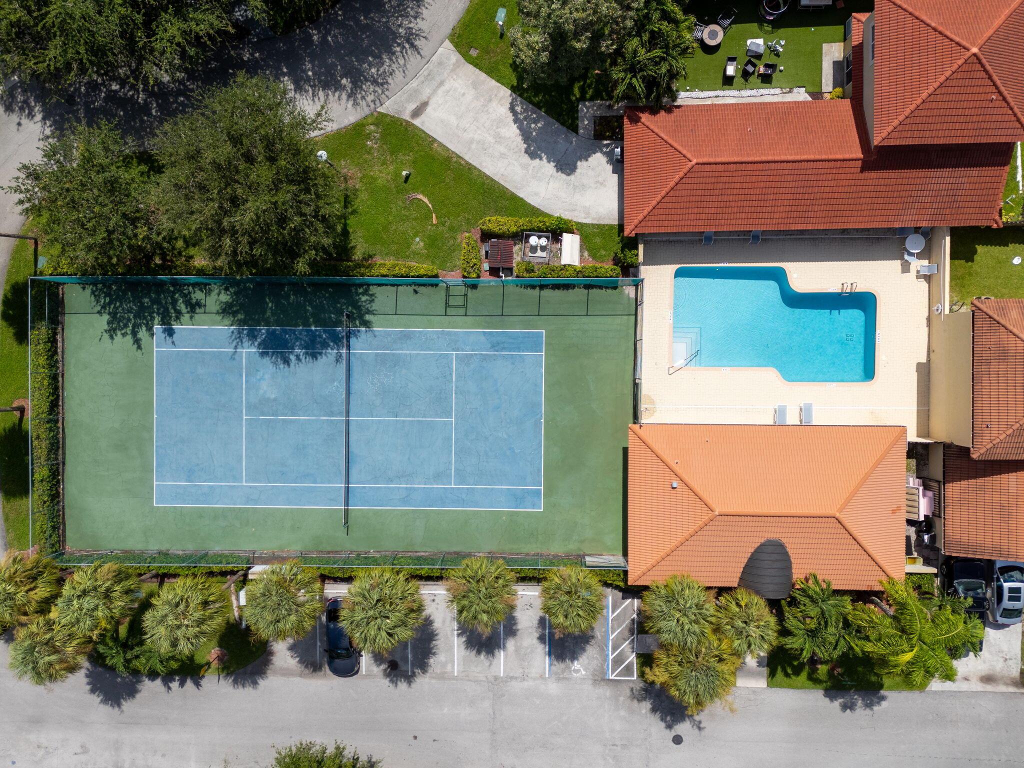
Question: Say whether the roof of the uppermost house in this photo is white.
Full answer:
No, from above the roof of the uppermost house looks red.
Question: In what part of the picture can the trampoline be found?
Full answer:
Look in the top right portion of the view to spot the trampoline.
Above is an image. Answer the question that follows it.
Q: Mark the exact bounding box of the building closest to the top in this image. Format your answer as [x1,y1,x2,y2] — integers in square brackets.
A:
[623,0,1024,238]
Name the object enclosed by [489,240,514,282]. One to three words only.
shed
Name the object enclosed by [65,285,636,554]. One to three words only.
tennis court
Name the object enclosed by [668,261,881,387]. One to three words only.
swimming pool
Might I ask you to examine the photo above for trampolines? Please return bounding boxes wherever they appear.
[756,0,794,32]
